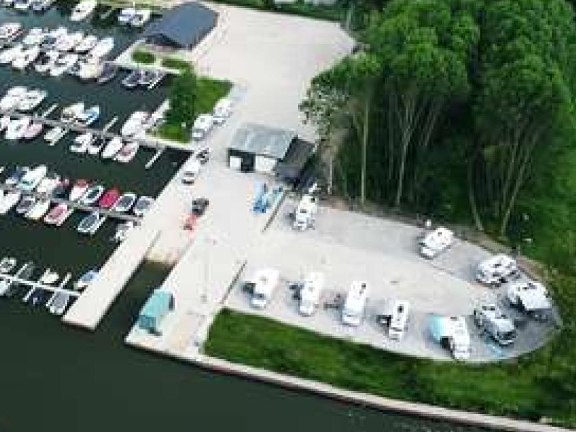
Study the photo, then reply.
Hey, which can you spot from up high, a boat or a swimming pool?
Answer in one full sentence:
The one in the frame is a boat.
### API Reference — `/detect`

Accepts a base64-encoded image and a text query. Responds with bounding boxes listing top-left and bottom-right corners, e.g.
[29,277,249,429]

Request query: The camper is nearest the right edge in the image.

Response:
[500,278,563,318]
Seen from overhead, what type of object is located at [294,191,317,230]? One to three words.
camper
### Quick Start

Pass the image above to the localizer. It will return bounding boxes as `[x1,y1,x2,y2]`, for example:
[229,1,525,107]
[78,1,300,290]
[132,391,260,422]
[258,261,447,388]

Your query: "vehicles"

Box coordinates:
[193,113,213,138]
[343,277,370,326]
[197,150,208,163]
[500,278,563,318]
[182,163,200,181]
[470,249,524,287]
[419,221,455,260]
[251,264,281,310]
[385,292,412,344]
[189,197,207,217]
[472,296,518,349]
[443,310,472,360]
[294,191,317,230]
[297,268,326,317]
[213,99,230,120]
